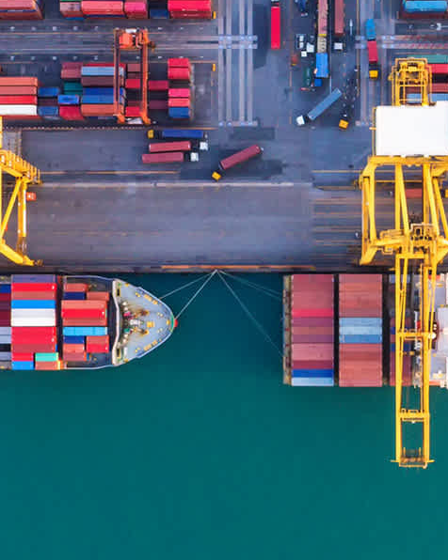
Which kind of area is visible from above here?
port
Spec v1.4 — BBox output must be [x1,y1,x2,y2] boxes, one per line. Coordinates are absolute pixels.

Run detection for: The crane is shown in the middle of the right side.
[349,55,448,469]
